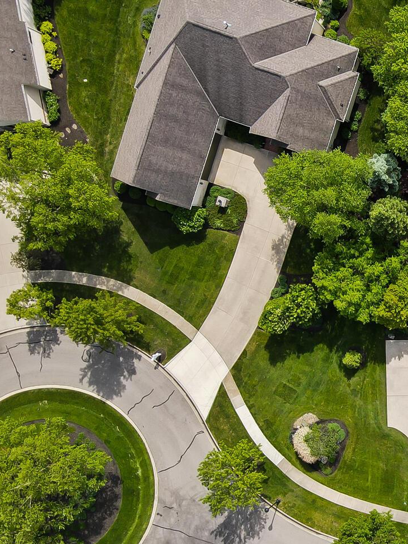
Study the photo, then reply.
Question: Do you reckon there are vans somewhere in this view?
No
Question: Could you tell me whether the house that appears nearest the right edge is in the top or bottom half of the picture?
top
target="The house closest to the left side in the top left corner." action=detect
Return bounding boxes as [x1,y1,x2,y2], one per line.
[0,0,55,132]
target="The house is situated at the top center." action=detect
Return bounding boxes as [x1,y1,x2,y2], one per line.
[110,0,371,210]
